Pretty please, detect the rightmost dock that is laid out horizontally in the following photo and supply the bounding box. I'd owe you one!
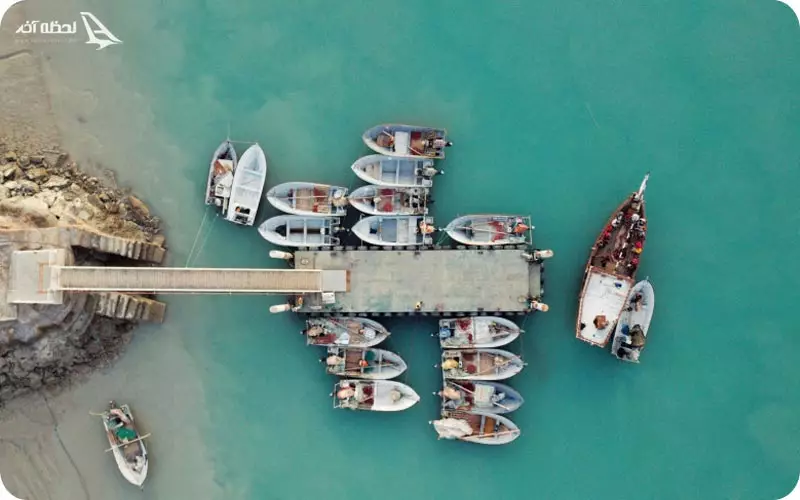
[279,246,545,316]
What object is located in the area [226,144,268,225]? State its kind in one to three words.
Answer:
boat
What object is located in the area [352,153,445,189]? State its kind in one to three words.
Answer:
boat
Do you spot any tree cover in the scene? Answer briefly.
No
